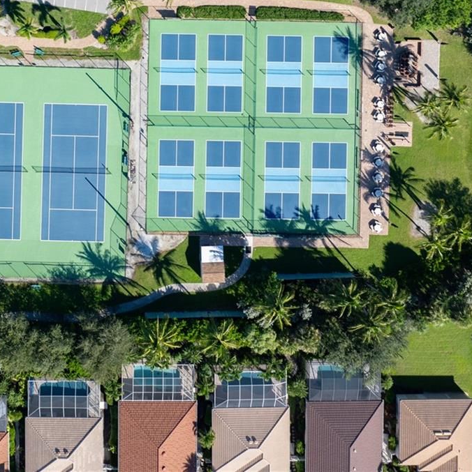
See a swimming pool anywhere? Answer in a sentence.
Yes, a swimming pool can be made out from above.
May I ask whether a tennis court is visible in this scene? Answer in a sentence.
Yes, there's a tennis court here.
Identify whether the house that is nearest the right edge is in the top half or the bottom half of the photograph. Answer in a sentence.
The bottom half of the photo is where the house that is nearest the right edge is.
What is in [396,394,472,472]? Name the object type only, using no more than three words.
house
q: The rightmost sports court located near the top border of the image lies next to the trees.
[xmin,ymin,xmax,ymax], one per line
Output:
[306,22,362,128]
